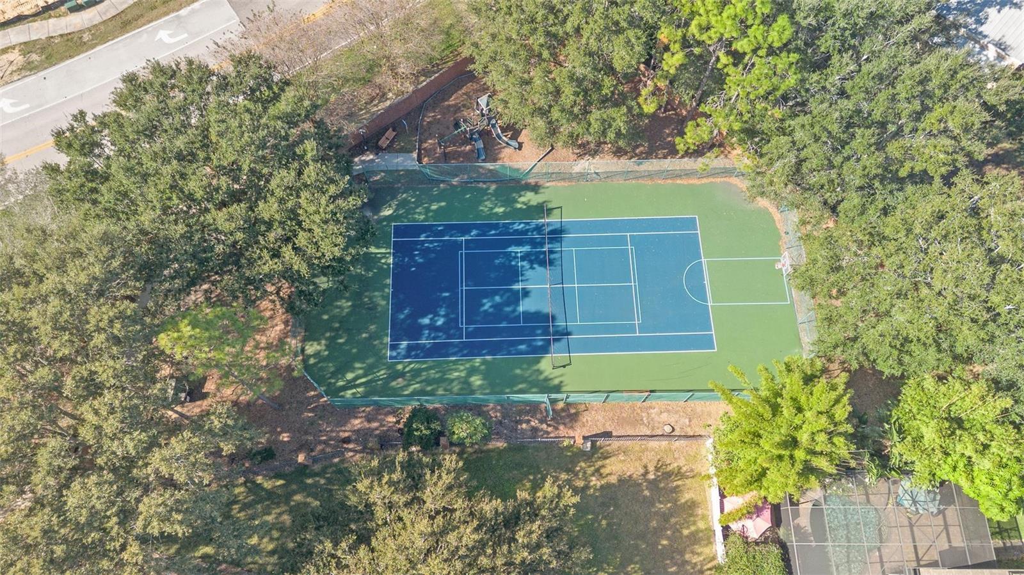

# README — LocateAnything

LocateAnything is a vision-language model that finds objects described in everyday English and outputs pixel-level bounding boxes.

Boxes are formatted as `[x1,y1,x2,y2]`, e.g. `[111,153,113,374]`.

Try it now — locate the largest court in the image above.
[301,180,802,401]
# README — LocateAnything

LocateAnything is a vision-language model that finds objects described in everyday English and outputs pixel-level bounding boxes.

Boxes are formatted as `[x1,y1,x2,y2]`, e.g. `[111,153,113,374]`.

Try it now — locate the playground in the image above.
[434,102,515,159]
